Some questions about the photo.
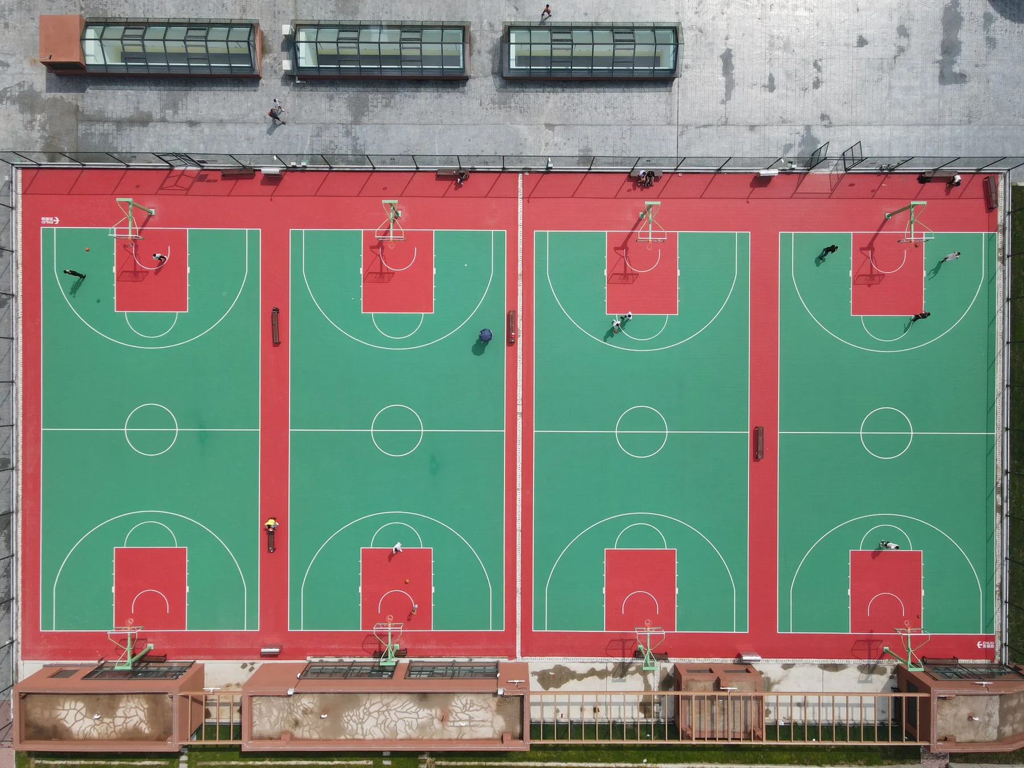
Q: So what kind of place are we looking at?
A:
sports ground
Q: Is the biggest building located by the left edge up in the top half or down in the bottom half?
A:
bottom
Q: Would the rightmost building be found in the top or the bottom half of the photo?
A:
bottom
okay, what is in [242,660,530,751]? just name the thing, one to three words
building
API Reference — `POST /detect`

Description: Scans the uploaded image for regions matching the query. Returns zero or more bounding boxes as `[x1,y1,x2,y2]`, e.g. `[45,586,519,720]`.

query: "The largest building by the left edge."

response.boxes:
[13,661,203,751]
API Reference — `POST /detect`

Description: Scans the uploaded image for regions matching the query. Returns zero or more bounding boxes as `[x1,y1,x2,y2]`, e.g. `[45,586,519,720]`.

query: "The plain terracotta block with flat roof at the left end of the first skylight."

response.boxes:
[40,15,89,73]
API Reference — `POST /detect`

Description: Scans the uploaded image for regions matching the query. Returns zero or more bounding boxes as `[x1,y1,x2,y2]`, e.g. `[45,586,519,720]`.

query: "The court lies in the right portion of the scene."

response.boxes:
[521,173,999,659]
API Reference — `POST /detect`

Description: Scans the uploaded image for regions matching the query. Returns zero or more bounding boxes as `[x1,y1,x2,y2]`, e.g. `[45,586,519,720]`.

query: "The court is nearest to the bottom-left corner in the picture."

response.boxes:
[22,169,518,660]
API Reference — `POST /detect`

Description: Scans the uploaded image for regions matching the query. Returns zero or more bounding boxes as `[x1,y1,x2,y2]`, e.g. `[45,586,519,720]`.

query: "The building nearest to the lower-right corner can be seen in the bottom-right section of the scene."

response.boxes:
[899,655,1024,753]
